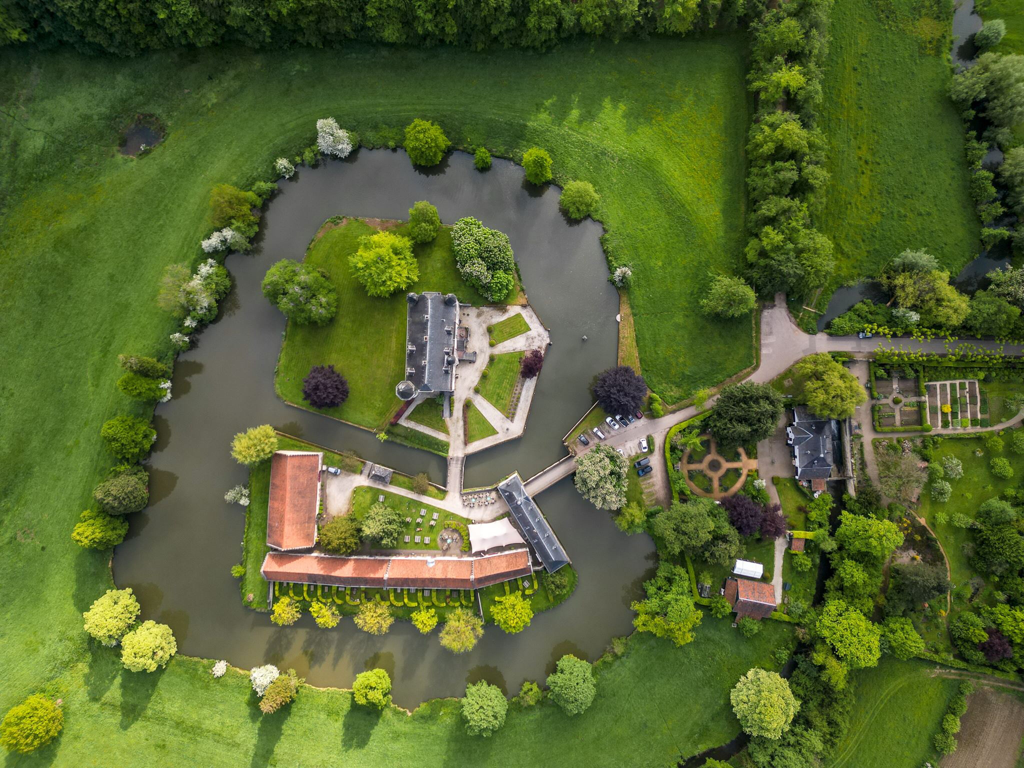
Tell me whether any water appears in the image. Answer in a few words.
Yes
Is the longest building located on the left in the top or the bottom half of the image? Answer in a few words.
bottom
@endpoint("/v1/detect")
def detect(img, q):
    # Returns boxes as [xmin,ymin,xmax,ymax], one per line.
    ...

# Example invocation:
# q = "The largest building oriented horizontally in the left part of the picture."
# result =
[263,548,534,590]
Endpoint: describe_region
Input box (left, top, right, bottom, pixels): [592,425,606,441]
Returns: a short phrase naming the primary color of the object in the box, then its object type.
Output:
white car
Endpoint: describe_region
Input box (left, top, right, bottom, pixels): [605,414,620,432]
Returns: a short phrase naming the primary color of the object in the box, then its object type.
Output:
white car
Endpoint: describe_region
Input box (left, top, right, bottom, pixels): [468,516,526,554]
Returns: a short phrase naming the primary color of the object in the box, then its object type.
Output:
white tent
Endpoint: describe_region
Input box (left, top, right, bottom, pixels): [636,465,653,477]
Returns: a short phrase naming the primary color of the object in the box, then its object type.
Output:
blue vehicle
